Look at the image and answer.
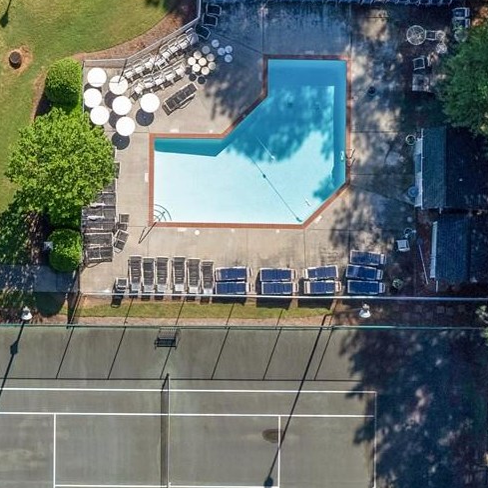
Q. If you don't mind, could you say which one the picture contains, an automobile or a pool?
pool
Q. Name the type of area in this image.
sports ground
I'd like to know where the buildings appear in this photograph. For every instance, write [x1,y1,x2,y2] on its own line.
[415,126,487,214]
[431,219,488,289]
